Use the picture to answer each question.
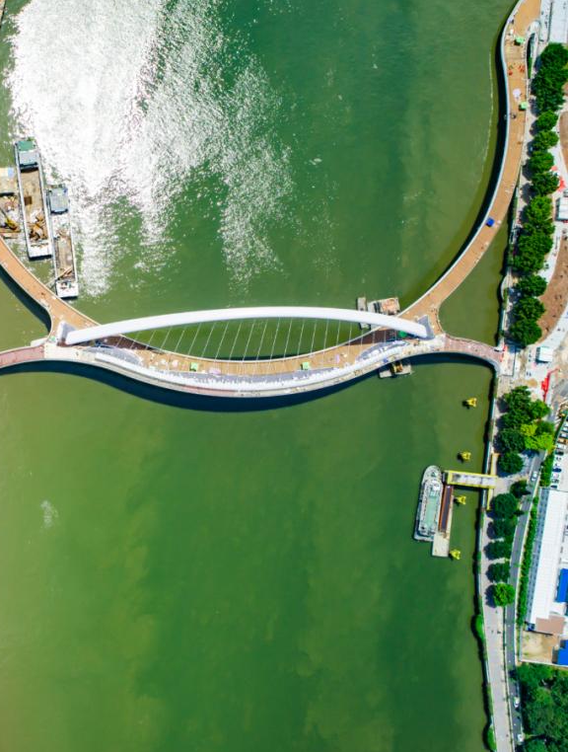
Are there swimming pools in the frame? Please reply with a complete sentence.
No, there appears to be no swimming pool in this shot.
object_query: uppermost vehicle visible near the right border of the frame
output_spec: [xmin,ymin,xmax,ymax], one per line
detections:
[541,365,568,398]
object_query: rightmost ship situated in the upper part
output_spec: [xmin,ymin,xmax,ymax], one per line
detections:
[47,184,77,298]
